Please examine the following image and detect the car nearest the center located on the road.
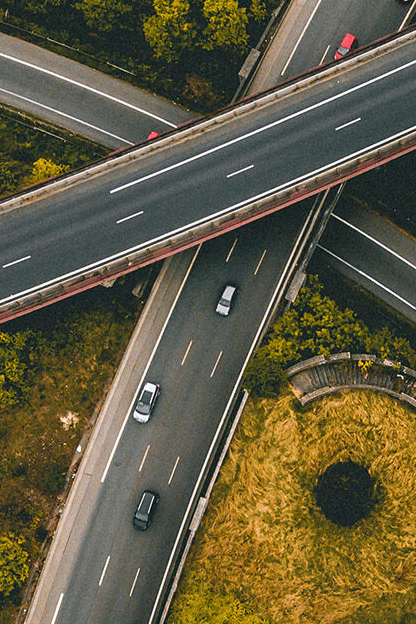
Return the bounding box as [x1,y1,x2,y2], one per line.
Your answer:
[215,283,239,317]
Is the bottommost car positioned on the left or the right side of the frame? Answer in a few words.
left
